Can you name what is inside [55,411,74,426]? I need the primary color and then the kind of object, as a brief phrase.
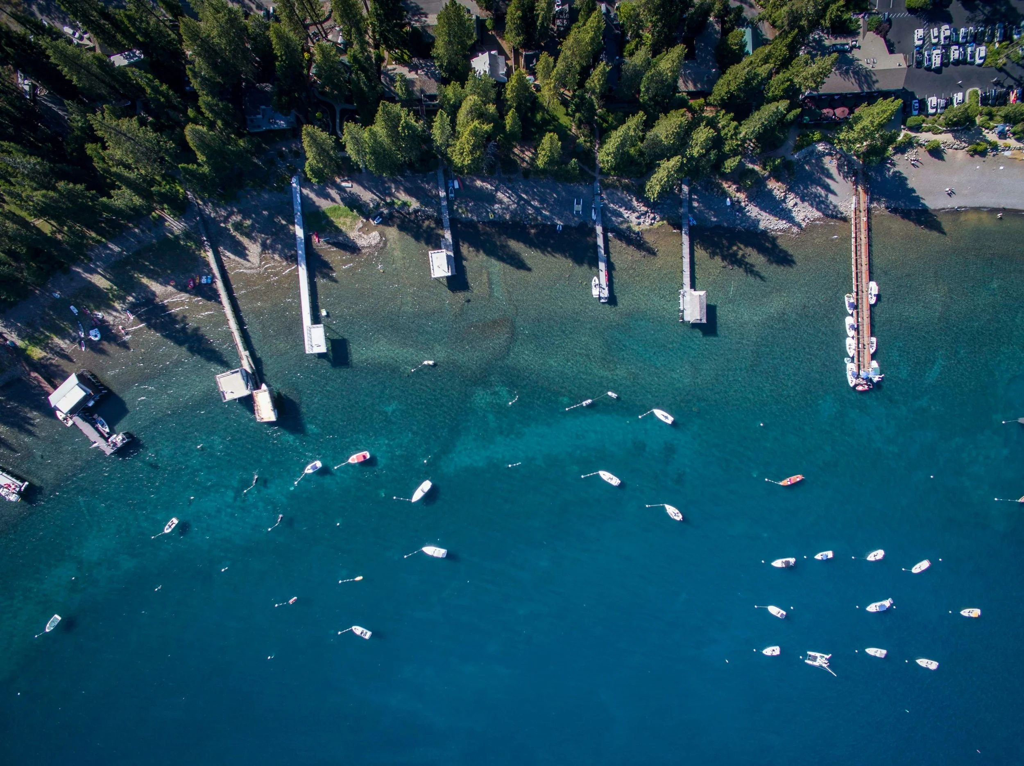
white boat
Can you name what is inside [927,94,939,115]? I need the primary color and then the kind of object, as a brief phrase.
white vehicle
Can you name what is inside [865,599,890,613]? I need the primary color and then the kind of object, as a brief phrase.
white boat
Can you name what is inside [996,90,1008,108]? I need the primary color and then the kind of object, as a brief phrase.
black vehicle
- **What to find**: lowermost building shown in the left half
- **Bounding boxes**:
[41,369,104,419]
